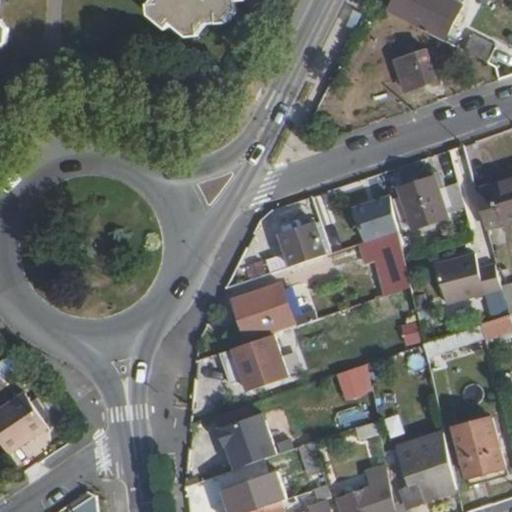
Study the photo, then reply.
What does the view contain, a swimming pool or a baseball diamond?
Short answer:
swimming pool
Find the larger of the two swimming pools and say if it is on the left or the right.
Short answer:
right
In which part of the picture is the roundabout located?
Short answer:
left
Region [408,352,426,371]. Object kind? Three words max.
swimming pool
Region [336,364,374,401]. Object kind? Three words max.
shed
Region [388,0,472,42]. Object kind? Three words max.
house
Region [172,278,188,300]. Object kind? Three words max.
car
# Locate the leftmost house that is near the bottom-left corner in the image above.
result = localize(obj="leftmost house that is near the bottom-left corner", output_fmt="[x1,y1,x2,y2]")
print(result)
[0,384,53,468]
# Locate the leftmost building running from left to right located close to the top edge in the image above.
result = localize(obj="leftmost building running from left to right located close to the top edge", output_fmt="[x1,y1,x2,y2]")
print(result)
[142,0,240,44]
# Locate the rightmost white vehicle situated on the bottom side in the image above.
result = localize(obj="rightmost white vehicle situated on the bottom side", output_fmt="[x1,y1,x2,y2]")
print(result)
[134,361,146,384]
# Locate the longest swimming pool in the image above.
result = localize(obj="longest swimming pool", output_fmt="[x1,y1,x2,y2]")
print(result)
[334,402,370,429]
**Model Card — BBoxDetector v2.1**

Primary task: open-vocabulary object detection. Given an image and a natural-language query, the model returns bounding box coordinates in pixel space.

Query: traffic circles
[0,151,214,365]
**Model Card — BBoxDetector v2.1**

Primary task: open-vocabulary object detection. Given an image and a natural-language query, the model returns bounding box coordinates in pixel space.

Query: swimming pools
[334,402,370,429]
[408,352,426,371]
